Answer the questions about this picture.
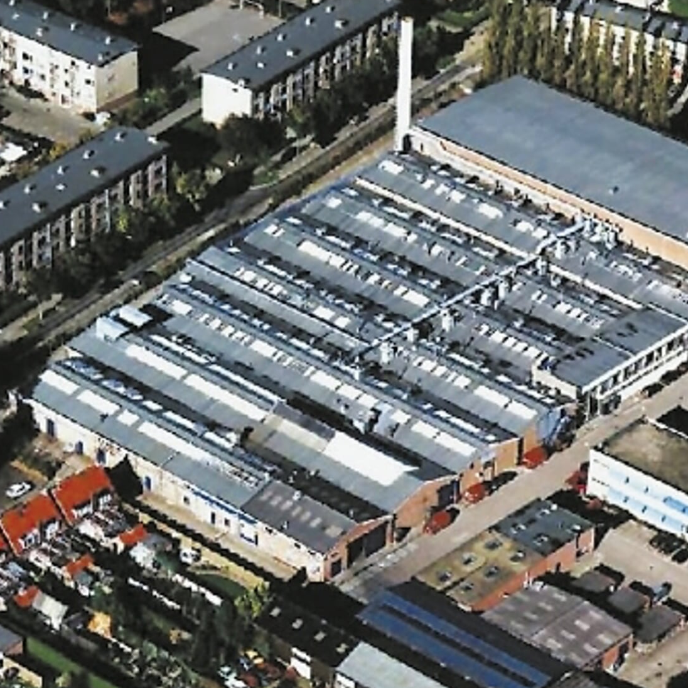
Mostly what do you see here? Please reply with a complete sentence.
Most of the picture is covered by buildings.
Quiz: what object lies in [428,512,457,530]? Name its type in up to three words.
car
